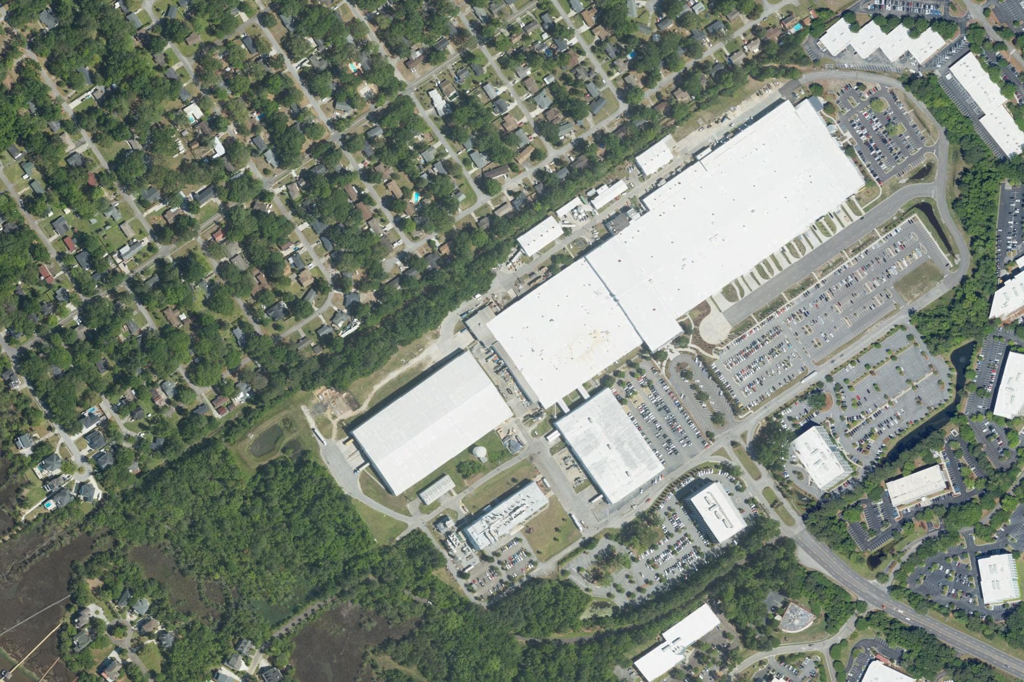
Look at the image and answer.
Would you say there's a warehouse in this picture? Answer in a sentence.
Yes, the photo shows a warehouse.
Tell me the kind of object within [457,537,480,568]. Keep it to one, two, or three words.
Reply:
house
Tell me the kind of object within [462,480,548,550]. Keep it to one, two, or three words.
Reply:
building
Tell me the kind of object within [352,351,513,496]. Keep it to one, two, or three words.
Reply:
warehouse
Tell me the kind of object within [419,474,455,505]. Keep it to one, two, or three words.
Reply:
shed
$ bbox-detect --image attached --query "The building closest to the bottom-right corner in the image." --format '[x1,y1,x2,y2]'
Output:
[975,552,1024,605]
